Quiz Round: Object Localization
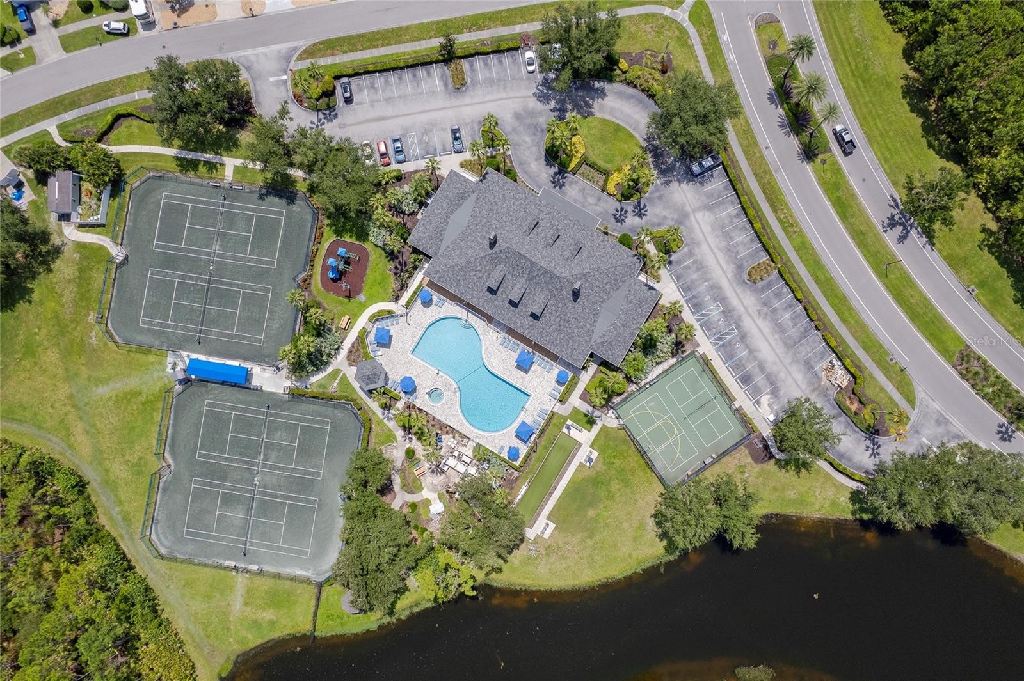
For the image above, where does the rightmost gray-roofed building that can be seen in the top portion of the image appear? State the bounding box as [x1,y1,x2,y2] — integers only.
[407,168,662,369]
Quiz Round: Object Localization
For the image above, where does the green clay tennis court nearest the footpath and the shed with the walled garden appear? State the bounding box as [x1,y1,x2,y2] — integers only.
[122,178,317,278]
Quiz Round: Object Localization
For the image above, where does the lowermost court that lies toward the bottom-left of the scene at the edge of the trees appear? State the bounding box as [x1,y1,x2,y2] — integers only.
[150,466,351,581]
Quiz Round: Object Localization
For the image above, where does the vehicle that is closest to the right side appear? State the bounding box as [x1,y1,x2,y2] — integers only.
[834,123,857,155]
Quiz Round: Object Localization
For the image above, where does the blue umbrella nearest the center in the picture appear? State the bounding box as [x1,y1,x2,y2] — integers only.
[515,349,535,370]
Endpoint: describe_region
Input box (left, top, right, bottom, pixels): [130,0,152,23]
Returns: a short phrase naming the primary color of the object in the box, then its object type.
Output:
white vehicle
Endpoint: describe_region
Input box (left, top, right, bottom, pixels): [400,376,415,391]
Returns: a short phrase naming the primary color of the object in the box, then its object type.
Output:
blue umbrella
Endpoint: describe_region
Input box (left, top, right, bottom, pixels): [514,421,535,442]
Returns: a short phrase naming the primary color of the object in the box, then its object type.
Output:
blue umbrella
